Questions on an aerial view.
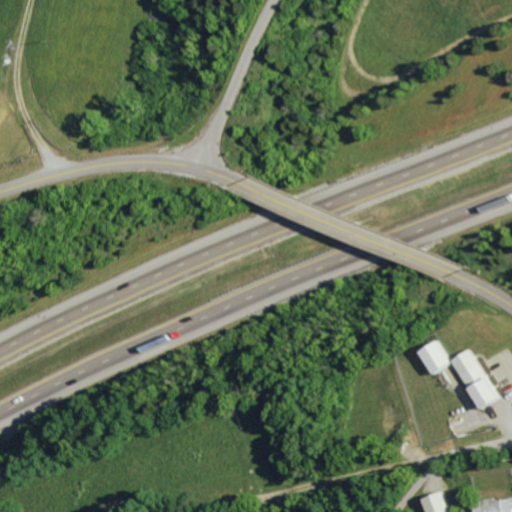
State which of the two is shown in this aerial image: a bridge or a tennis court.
bridge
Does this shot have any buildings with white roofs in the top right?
No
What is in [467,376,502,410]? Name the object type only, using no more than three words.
house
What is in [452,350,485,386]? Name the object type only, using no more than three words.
house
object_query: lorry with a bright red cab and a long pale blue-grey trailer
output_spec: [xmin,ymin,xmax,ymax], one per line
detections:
[136,330,180,354]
